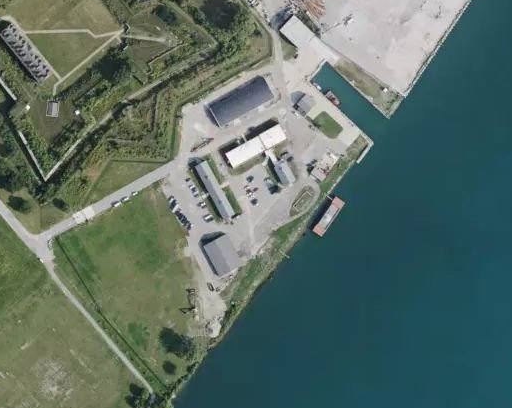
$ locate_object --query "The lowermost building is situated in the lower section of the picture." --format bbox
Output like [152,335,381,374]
[203,233,244,278]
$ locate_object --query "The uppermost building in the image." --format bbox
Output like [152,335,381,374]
[280,14,316,50]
